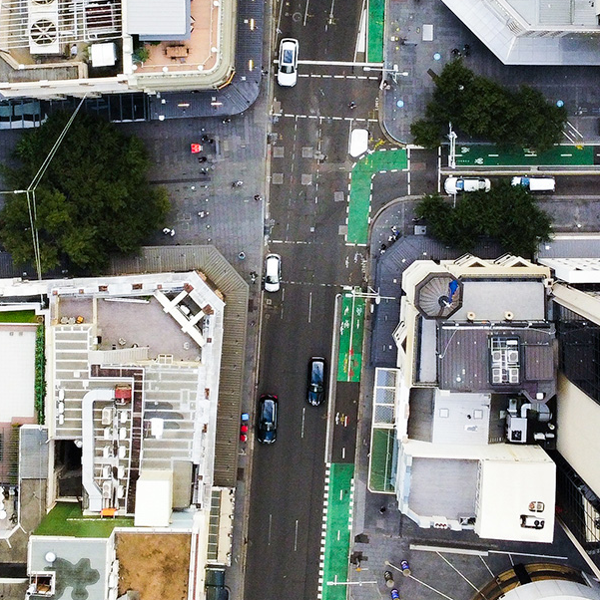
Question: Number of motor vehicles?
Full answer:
Looking from above, you can make out 6 motor vehicles.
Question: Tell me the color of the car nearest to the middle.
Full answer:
The color of the car nearest to the middle is white.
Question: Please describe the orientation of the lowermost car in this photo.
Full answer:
I'd say the lowermost car is aligned vertically in the picture.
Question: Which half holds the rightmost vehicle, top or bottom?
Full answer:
The rightmost vehicle sits in the top half of the picture.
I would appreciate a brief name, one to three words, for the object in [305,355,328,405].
car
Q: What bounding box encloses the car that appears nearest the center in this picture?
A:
[262,253,283,293]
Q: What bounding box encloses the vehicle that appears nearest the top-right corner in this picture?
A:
[511,173,558,195]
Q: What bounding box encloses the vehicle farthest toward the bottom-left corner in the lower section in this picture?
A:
[257,393,279,443]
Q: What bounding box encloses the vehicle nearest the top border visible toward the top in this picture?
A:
[277,38,299,87]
